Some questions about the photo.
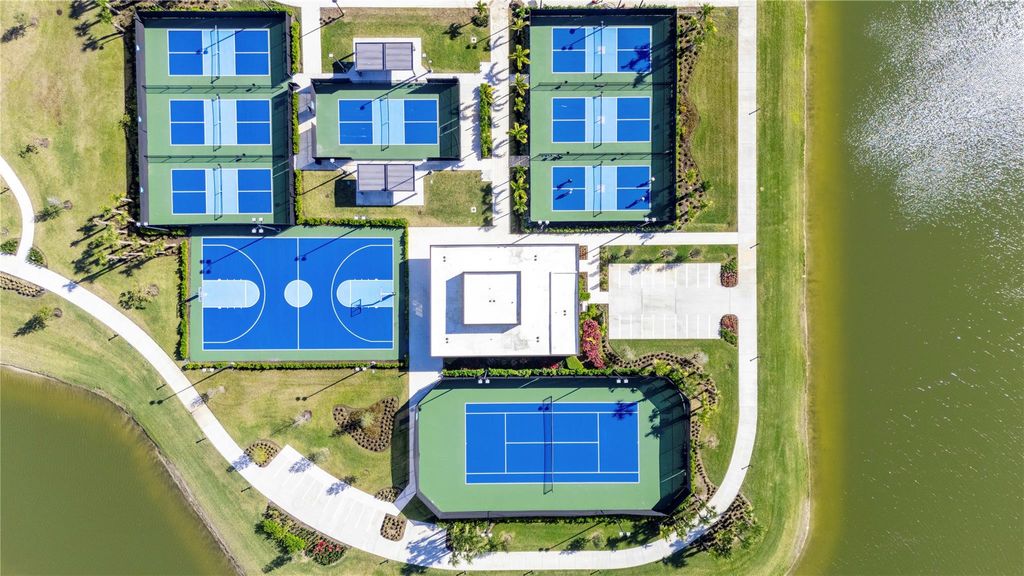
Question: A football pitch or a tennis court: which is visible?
tennis court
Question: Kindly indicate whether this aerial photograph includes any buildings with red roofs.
No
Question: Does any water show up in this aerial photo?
Yes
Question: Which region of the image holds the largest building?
center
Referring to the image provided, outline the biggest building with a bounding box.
[430,244,580,357]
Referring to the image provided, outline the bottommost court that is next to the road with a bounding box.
[418,378,684,511]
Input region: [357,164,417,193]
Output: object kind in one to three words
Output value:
building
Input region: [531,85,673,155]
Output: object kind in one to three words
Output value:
sports court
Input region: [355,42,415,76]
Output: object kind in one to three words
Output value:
building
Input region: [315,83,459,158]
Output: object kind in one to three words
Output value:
sports court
